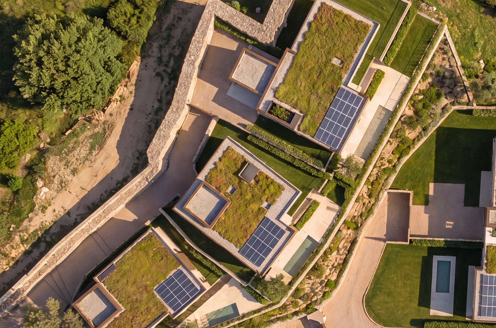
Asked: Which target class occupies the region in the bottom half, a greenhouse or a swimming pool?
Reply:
swimming pool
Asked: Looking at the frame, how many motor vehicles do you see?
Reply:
0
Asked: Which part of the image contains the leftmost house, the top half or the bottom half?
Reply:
bottom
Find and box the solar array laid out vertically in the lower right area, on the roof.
[481,274,496,317]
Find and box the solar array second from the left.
[240,217,285,266]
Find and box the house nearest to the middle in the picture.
[172,136,305,275]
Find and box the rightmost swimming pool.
[434,259,452,294]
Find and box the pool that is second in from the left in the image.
[280,232,322,278]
